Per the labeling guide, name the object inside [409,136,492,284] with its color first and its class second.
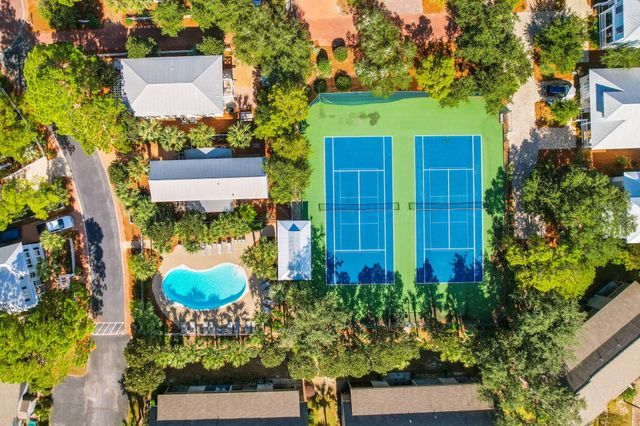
blue tennis court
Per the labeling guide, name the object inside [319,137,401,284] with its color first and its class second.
blue tennis court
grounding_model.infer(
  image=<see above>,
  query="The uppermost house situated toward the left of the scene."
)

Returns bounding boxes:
[121,57,238,119]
